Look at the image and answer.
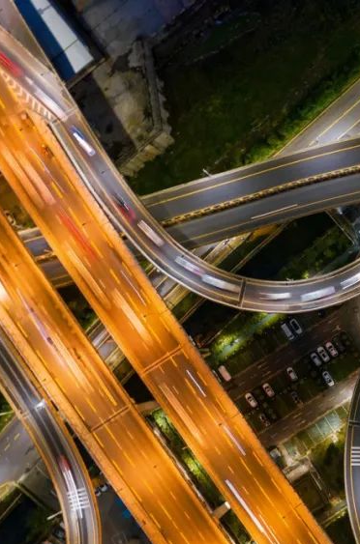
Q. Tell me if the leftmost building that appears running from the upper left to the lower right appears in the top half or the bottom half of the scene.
top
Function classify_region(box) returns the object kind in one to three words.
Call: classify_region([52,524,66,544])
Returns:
car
